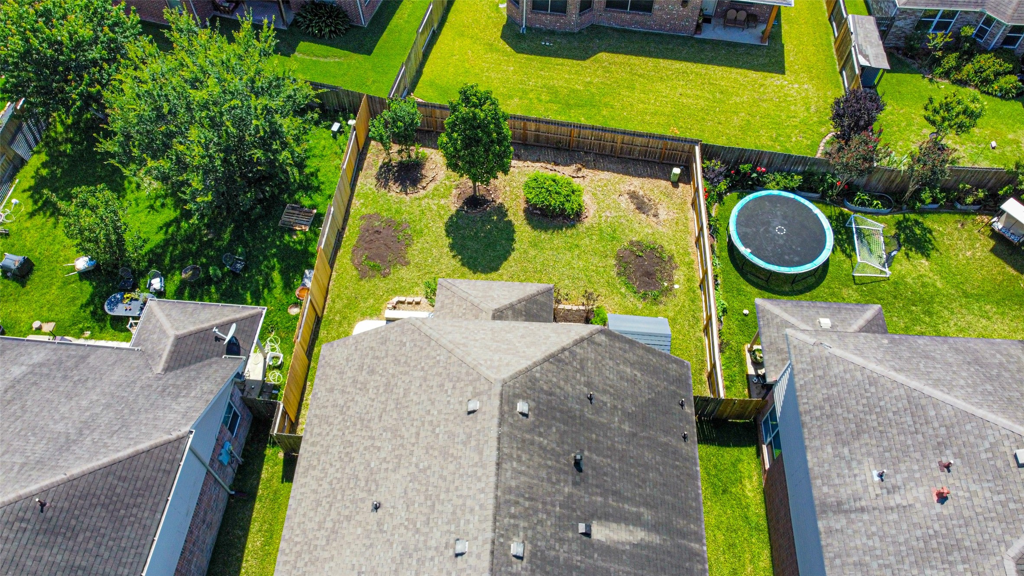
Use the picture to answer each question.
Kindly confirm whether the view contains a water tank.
No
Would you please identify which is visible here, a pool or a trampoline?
trampoline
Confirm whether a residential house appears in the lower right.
Yes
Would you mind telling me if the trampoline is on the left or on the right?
right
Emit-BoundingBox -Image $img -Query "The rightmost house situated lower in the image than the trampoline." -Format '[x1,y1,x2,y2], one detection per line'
[747,298,1024,576]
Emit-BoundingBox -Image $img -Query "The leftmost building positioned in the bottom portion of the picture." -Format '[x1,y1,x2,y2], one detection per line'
[0,296,271,576]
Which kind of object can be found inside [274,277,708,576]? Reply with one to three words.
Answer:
house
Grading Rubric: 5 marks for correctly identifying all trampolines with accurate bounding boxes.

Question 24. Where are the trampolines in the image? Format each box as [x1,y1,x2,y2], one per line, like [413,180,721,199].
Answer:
[727,193,835,285]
